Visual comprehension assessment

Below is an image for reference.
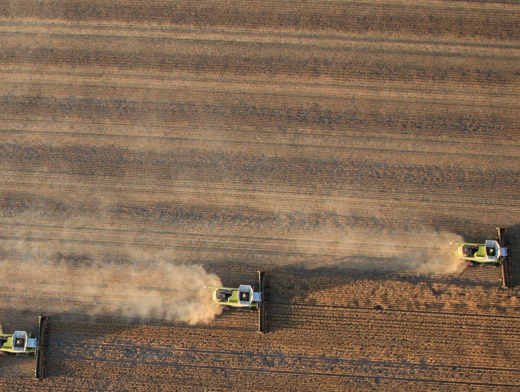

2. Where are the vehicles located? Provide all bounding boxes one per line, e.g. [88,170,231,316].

[0,316,51,379]
[447,226,515,288]
[203,270,270,333]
